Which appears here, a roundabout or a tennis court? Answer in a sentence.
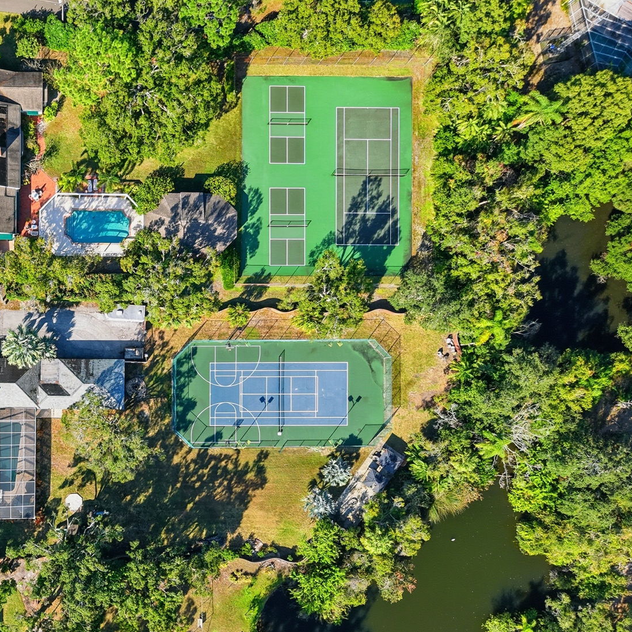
It is a tennis court that can be seen here.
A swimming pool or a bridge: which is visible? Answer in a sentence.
There is a swimming pool in the scene.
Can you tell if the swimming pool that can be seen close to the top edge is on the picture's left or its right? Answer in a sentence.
You can find the swimming pool that can be seen close to the top edge on the right side of the picture.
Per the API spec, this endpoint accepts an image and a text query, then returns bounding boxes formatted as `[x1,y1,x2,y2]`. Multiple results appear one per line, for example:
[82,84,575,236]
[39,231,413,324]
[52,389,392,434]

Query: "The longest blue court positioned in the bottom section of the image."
[210,363,348,426]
